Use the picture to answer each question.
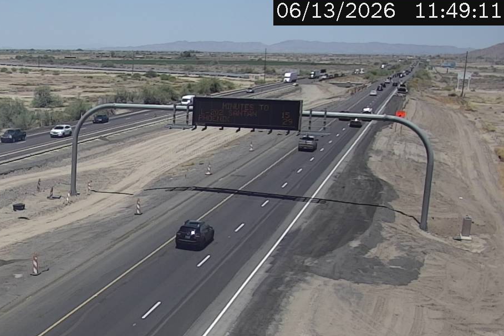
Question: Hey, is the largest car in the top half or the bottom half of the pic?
bottom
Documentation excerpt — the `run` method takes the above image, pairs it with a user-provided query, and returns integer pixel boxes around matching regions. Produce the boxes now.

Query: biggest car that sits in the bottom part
[175,216,217,249]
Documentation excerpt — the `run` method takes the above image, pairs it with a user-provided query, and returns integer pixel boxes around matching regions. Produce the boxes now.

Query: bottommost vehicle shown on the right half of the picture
[299,134,322,151]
